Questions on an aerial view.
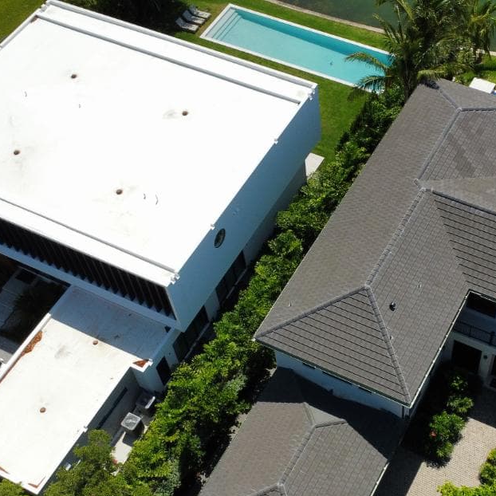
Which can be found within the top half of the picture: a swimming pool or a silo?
swimming pool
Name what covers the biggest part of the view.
buildings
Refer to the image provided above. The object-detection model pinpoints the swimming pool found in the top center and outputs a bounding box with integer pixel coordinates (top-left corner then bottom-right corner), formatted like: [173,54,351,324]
[206,7,388,89]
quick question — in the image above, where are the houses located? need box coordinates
[0,0,320,351]
[254,73,496,444]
